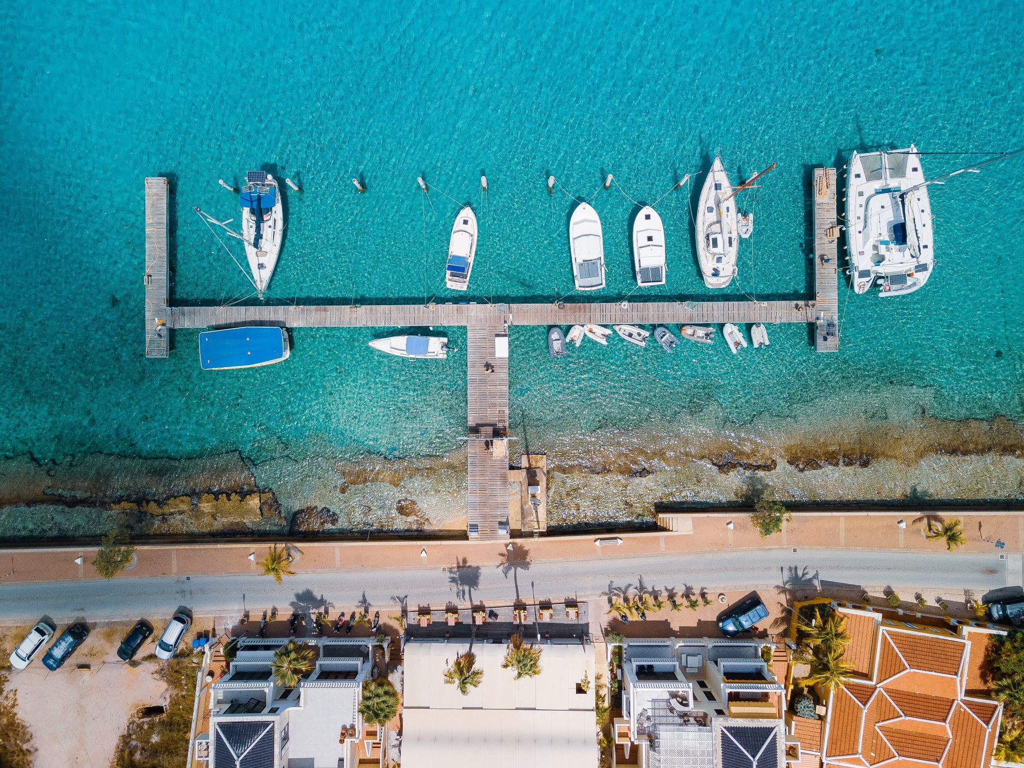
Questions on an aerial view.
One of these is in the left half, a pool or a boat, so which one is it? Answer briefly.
boat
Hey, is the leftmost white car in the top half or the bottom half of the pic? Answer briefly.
bottom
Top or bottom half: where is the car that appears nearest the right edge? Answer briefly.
bottom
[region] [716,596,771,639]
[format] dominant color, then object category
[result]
blue vehicle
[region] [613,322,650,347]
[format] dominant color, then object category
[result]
white boat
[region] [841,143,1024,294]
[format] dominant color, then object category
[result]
white boat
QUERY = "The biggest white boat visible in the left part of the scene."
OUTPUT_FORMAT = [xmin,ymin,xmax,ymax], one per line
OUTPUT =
[191,171,284,298]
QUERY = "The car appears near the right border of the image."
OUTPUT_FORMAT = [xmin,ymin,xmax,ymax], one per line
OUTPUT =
[982,595,1024,625]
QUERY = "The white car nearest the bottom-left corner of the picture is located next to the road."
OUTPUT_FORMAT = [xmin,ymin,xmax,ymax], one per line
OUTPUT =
[10,620,55,668]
